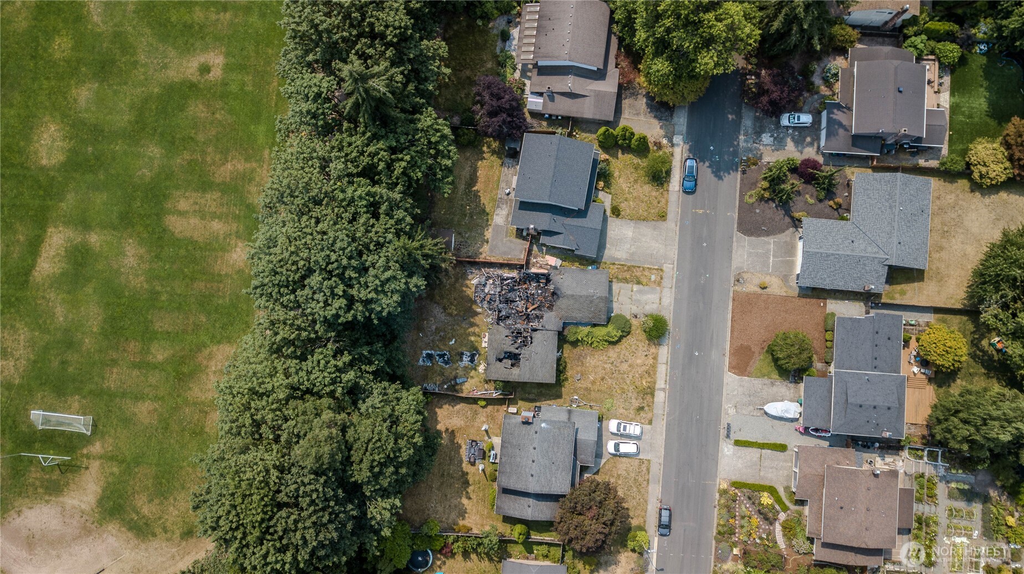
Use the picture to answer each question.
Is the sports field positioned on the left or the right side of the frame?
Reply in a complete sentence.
It is on the left.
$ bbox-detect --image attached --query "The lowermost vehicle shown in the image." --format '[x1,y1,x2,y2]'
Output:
[657,505,673,535]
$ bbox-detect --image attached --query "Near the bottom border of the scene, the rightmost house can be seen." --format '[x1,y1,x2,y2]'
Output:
[787,444,915,566]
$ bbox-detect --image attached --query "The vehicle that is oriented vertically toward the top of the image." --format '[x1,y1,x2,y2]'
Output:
[681,158,697,192]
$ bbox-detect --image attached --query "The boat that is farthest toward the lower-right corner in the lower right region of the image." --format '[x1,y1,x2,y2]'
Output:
[805,428,828,441]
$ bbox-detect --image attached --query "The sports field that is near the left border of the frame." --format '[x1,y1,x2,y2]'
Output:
[0,0,325,574]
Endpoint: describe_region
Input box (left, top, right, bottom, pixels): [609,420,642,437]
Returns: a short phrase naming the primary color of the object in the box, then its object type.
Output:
white car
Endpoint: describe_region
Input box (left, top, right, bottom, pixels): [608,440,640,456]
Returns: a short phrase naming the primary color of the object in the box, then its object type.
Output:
white car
